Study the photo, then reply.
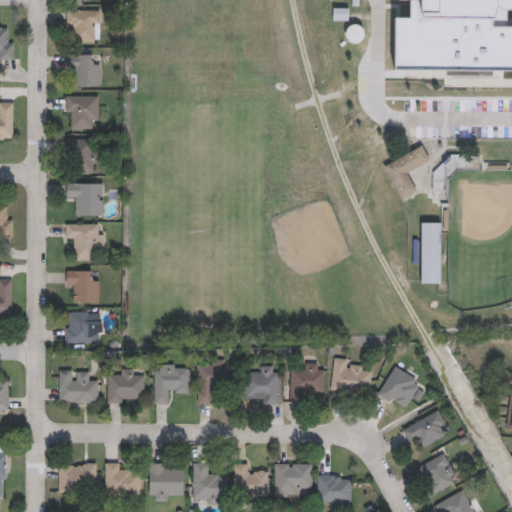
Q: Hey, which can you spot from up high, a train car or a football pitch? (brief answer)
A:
football pitch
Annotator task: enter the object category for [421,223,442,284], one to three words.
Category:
barn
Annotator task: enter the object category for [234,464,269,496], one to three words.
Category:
house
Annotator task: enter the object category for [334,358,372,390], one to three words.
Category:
house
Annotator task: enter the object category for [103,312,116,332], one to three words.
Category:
swimming pool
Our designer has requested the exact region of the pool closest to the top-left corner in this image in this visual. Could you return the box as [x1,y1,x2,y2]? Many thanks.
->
[104,200,118,219]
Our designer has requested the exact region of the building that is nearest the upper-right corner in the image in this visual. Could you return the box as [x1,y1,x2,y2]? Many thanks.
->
[394,0,512,69]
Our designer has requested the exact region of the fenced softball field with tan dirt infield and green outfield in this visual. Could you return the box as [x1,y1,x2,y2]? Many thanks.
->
[448,170,512,311]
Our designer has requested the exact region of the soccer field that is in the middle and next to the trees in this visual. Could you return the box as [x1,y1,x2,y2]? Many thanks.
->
[146,100,267,333]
